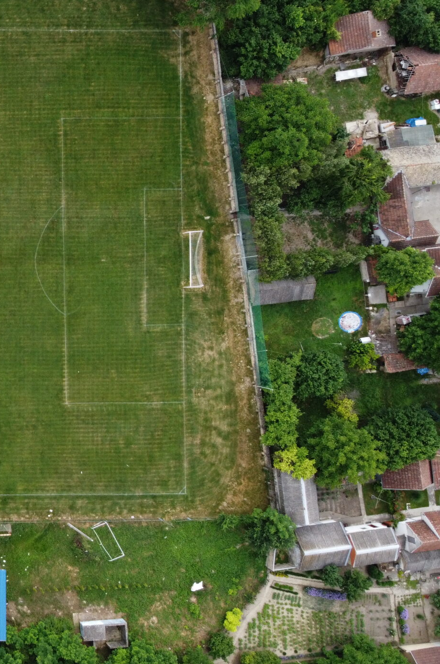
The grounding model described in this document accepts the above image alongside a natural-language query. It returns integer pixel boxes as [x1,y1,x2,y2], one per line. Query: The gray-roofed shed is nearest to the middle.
[249,276,316,306]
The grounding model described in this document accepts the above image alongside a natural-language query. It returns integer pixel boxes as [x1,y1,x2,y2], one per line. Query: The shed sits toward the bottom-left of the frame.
[75,615,128,647]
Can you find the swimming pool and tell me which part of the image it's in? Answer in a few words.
right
